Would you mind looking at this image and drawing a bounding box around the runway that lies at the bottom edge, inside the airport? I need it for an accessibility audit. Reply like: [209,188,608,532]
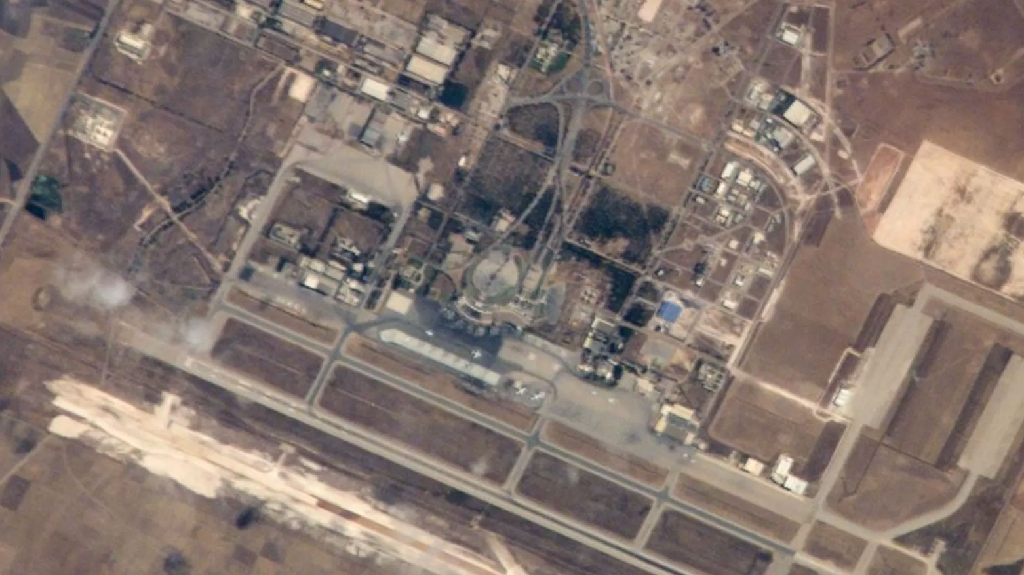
[134,348,681,575]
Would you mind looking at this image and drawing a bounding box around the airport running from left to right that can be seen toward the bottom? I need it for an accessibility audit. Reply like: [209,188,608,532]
[125,139,1024,575]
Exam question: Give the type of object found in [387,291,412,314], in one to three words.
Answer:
hangar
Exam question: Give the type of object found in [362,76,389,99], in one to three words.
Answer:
hangar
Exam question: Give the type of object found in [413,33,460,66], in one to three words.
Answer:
building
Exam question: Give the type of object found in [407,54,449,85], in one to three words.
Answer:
building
